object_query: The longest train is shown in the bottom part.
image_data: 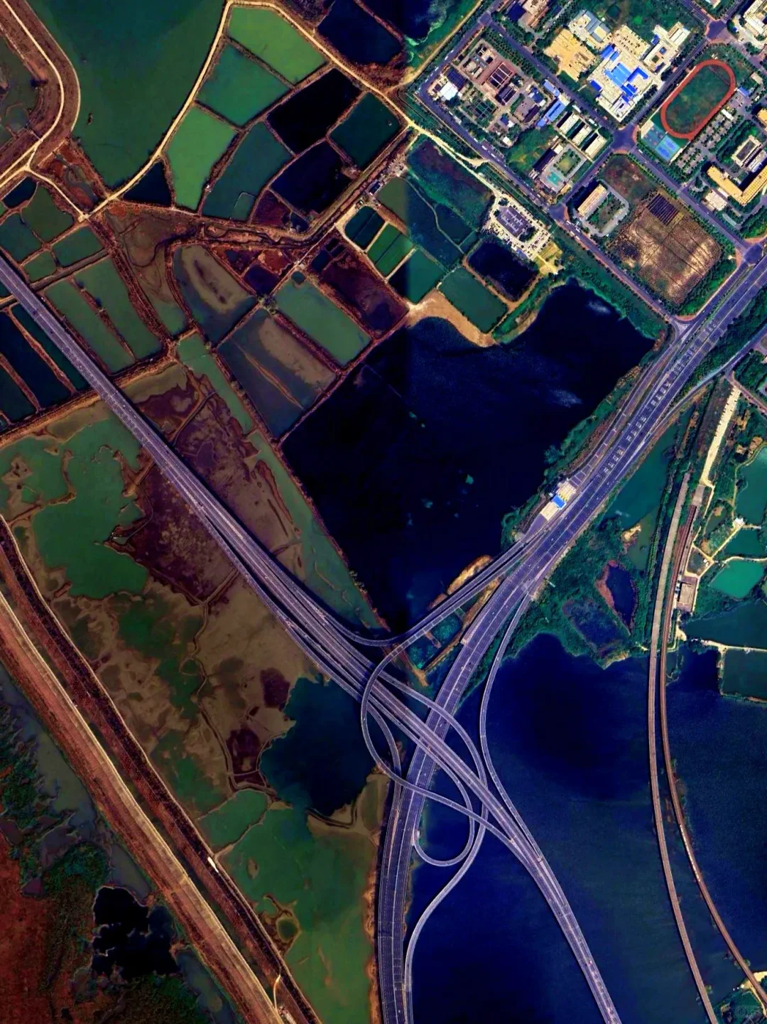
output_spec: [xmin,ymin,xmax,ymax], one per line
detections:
[682,821,702,879]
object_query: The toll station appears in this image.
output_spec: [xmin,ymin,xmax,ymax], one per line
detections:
[543,413,626,519]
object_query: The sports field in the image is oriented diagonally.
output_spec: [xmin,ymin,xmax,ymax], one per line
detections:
[667,65,731,130]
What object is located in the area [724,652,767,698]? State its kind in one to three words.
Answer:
pond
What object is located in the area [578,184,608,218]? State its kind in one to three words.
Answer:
building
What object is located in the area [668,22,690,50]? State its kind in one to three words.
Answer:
building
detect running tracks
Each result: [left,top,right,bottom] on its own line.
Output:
[661,60,736,139]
